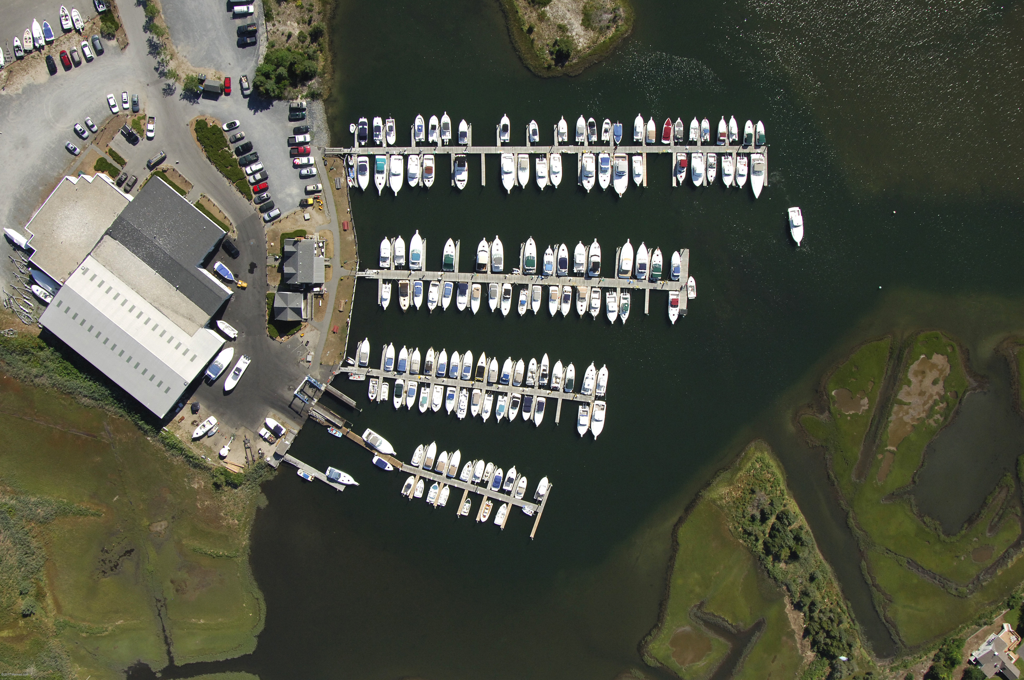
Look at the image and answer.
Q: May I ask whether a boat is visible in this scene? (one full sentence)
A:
Yes, a boat can be made out from above.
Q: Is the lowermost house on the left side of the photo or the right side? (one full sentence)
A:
The lowermost house appears in the right half of the scene.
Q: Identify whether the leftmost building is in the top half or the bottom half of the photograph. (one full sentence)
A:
The leftmost building sits in the top half of the picture.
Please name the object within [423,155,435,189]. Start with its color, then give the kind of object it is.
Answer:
white boat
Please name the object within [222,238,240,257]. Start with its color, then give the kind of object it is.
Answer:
black car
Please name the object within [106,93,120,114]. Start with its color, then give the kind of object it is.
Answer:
white car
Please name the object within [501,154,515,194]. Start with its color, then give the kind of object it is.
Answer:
white boat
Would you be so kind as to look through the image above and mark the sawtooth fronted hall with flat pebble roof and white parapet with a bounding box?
[25,173,133,286]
